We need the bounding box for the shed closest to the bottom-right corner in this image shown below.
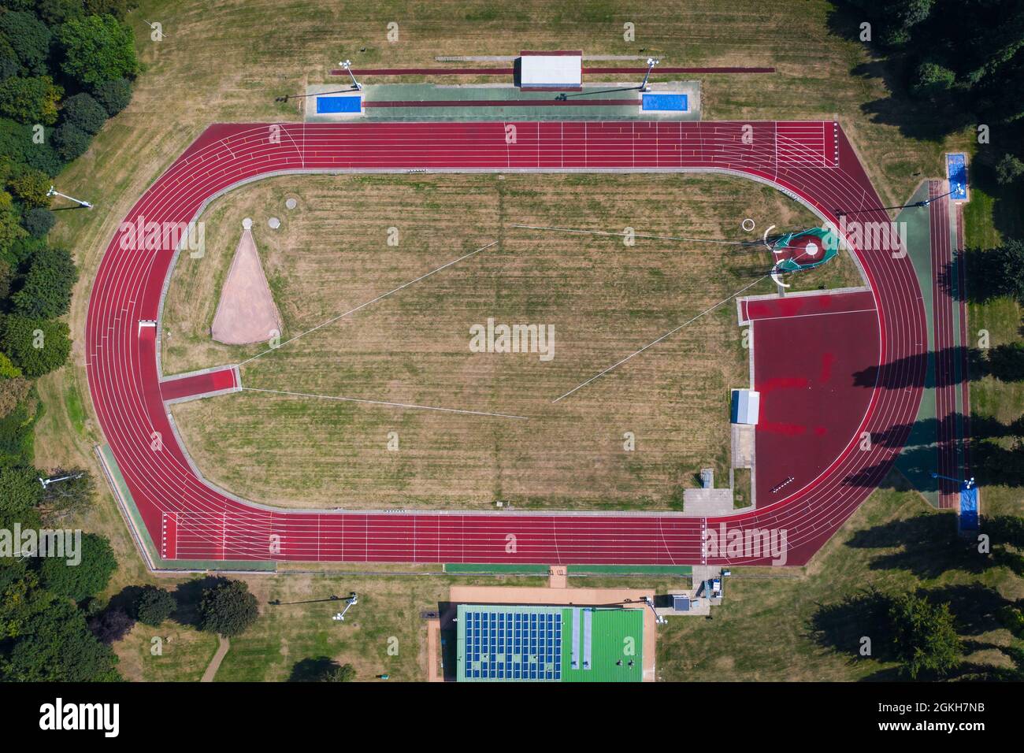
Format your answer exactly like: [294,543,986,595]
[674,595,692,614]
